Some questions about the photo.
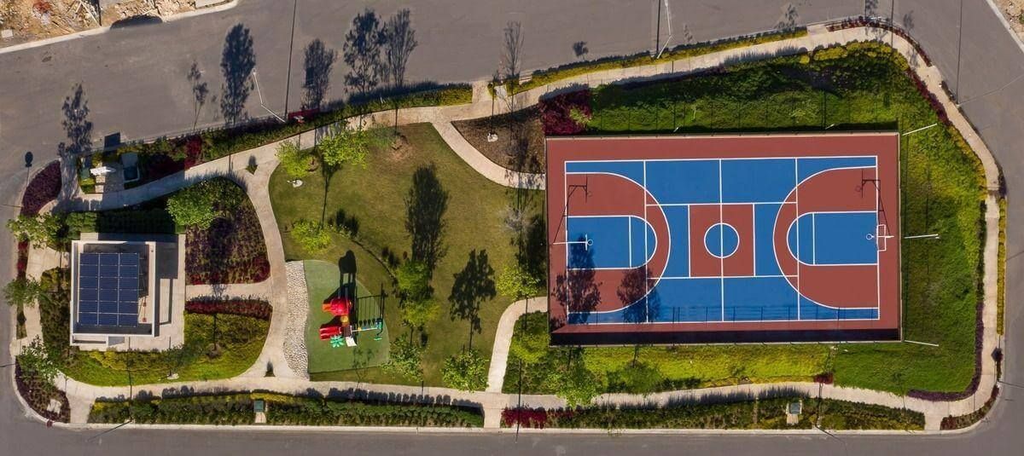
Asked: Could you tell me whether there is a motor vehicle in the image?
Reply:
No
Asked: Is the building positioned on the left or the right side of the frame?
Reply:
left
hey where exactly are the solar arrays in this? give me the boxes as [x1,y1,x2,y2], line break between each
[78,253,146,326]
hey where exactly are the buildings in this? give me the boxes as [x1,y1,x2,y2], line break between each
[71,241,172,345]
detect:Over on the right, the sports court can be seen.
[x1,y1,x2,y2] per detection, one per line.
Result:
[548,135,900,346]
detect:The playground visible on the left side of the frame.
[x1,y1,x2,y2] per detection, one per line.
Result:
[318,298,384,349]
